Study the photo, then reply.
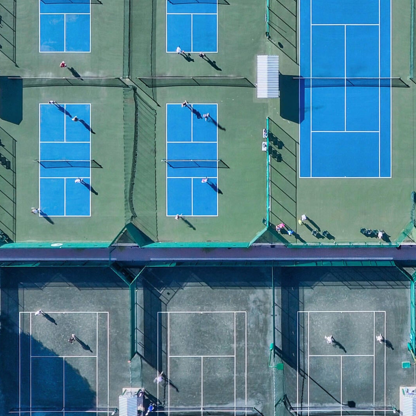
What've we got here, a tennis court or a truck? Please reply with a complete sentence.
The image shows a tennis court.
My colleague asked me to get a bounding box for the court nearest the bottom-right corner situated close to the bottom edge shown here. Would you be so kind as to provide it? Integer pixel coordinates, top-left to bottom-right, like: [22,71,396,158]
[298,311,386,416]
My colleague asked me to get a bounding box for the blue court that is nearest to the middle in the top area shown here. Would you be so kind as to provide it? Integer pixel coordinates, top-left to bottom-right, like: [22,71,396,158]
[167,103,218,217]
